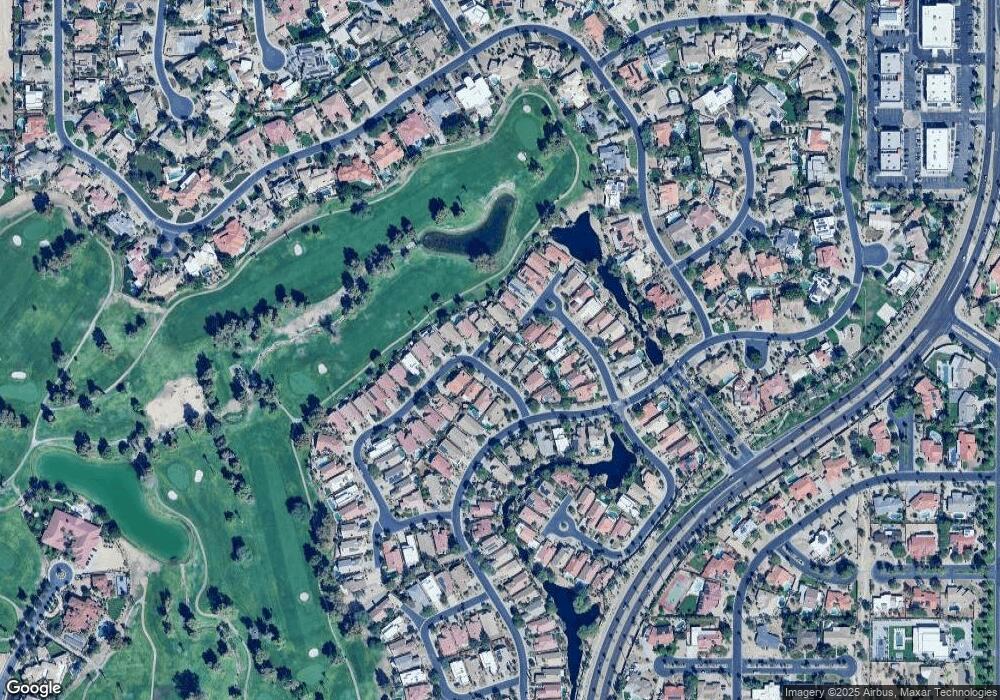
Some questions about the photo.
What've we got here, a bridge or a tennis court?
tennis court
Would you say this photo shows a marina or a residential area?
residential area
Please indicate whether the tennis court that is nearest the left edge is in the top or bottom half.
bottom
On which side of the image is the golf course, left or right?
left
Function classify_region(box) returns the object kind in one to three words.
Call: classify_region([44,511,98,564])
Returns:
building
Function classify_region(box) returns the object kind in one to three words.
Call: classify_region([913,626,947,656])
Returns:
house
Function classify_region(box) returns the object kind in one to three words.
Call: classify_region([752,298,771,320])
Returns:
house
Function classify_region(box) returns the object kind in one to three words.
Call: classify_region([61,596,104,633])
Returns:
building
